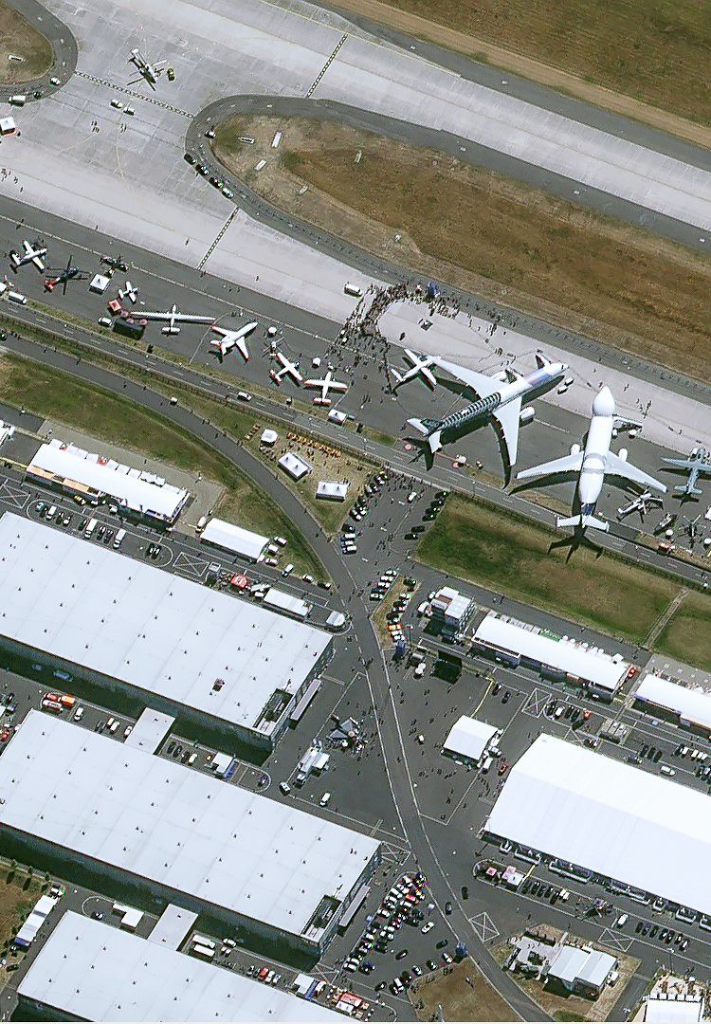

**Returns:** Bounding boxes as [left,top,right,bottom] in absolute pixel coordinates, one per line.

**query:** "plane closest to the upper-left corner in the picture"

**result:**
[12,238,46,270]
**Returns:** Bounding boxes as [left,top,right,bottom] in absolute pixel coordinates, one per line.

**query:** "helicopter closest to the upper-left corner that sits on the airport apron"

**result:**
[127,45,166,91]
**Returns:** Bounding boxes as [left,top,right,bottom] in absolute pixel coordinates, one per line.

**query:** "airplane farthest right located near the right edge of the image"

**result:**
[657,447,711,493]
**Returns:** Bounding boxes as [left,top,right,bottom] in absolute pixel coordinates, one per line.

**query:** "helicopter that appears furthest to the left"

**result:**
[43,254,90,295]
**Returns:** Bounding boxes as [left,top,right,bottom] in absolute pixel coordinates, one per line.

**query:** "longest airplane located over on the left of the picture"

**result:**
[130,304,214,332]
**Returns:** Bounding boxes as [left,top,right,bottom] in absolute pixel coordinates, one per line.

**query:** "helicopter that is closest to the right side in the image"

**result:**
[679,516,705,540]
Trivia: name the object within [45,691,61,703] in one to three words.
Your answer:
vehicle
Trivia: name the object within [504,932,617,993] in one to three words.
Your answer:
building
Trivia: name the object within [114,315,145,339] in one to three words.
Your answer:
tent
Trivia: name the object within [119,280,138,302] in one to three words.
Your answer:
airplane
